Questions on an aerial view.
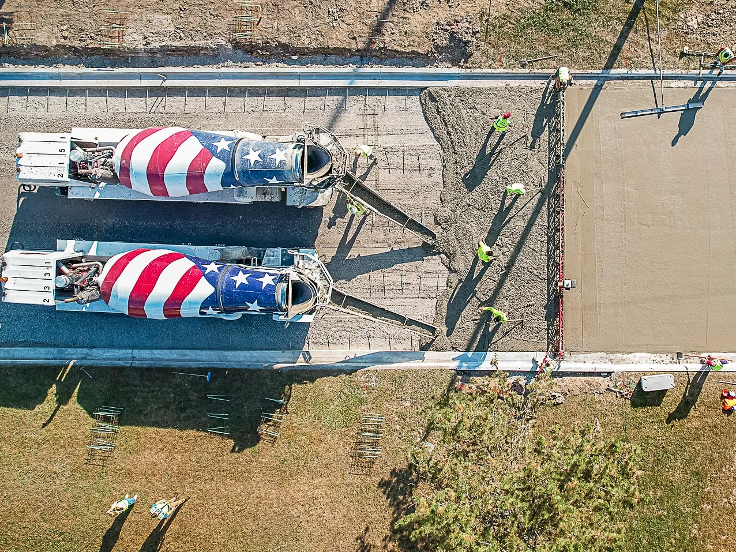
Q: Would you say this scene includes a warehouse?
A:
No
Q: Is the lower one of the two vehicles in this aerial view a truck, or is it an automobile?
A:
truck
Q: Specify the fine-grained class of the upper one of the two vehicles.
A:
truck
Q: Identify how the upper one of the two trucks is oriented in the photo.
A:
horizontally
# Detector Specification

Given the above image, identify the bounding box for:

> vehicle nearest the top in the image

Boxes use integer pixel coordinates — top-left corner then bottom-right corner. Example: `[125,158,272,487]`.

[16,127,441,251]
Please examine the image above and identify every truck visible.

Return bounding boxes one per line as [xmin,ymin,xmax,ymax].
[1,237,441,344]
[16,127,441,251]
